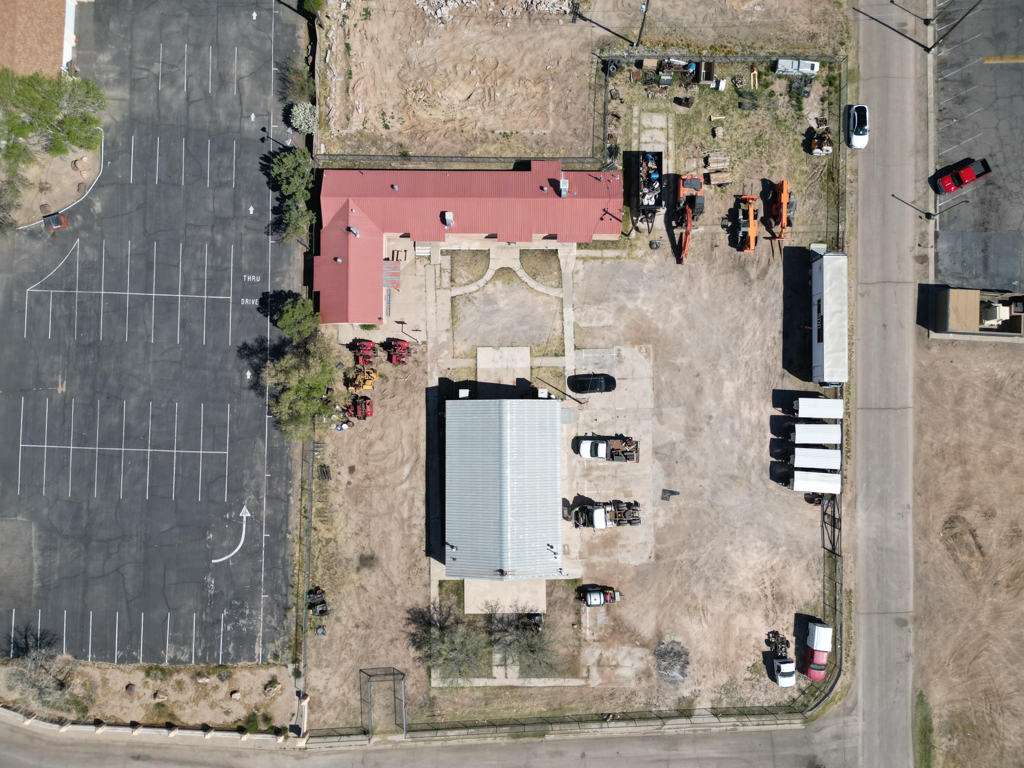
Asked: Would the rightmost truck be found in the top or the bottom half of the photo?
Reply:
top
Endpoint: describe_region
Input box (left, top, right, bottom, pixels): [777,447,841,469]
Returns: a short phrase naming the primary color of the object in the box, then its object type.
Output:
white trailer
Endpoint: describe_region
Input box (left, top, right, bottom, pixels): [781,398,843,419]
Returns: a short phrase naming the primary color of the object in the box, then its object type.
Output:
white trailer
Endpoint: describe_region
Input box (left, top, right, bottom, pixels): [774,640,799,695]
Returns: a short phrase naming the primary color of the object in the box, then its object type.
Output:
white truck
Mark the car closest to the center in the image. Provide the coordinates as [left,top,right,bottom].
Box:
[573,373,617,395]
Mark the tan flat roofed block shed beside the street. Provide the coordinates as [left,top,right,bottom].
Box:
[934,289,980,333]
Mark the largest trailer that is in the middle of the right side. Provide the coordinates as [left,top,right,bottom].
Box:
[808,253,848,387]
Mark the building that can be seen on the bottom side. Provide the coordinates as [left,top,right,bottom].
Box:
[445,389,566,580]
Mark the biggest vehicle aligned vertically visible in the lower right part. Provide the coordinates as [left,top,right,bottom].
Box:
[808,623,838,681]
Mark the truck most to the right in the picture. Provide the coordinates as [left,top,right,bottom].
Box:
[936,156,998,197]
